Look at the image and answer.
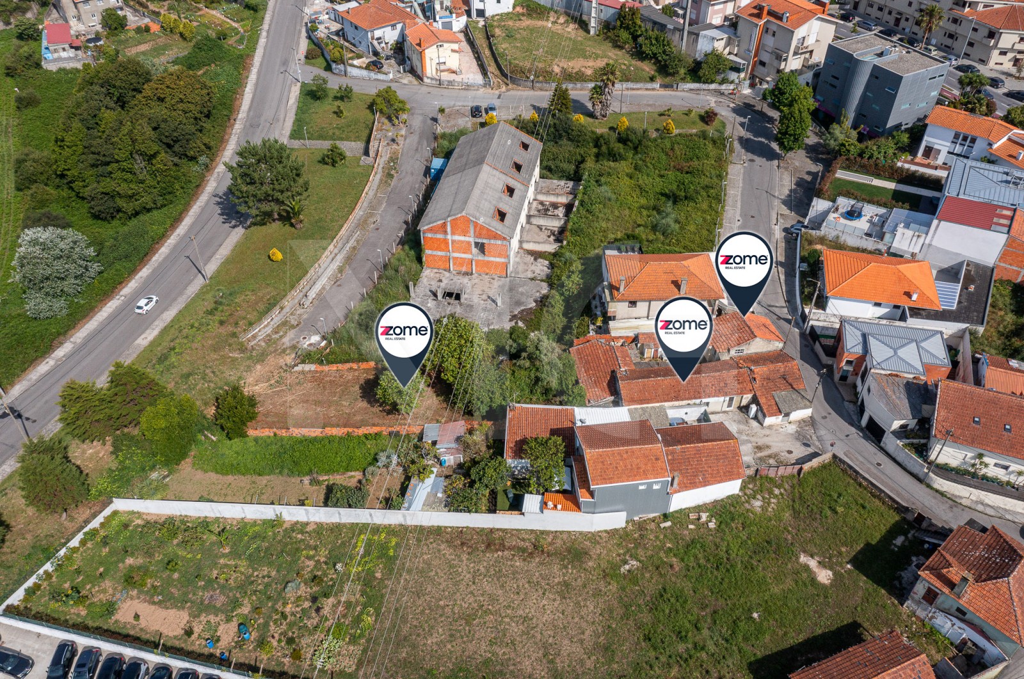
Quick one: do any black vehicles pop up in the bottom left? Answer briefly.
Yes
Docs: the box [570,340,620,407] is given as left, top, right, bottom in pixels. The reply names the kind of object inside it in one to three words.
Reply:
barn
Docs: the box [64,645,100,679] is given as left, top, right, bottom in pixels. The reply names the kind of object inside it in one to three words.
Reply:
car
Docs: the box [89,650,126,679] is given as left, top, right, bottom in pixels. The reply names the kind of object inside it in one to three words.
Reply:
car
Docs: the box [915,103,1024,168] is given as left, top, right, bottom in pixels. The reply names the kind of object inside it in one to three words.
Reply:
house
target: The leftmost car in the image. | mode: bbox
[0,644,30,675]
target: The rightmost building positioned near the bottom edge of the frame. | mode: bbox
[904,522,1024,675]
